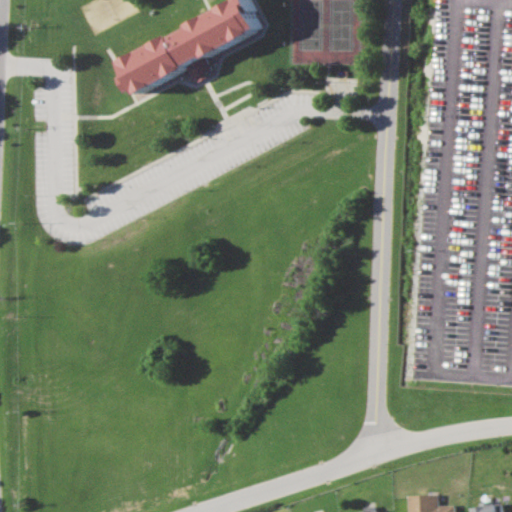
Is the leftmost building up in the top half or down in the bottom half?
top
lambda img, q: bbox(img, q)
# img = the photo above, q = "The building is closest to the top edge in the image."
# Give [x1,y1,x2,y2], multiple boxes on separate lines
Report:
[108,0,264,94]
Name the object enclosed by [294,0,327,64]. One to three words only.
tennis court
